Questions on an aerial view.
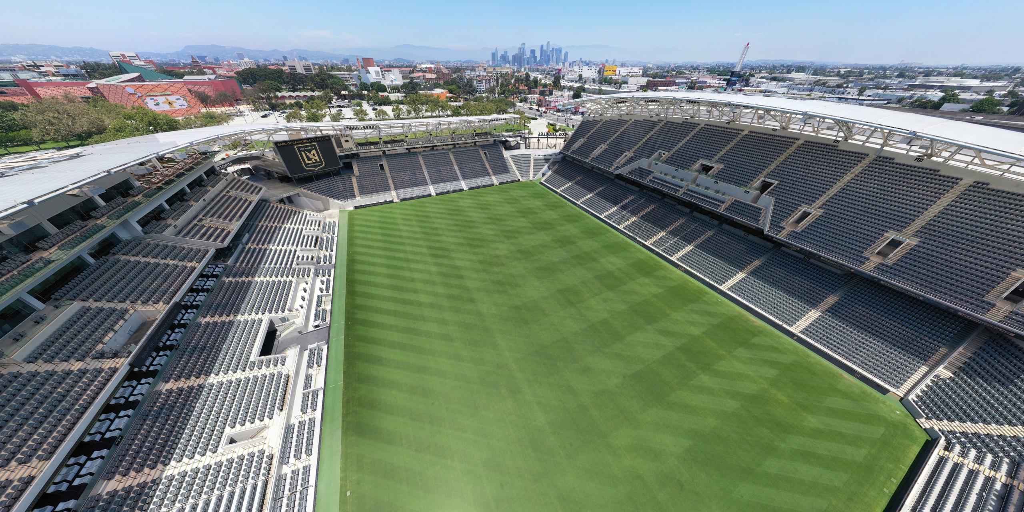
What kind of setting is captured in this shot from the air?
sports ground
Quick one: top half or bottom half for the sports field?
bottom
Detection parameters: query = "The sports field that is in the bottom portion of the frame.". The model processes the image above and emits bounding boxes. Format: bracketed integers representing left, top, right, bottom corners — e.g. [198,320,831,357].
[341,181,933,512]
